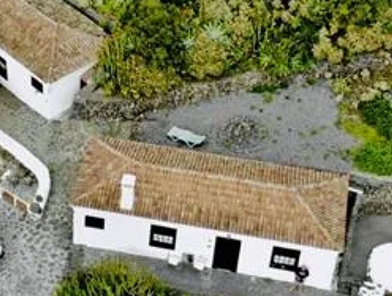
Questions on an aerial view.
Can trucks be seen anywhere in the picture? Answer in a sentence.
No, there isn't any truck down there.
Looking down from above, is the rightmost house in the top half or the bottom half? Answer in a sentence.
You can find the rightmost house in the bottom half.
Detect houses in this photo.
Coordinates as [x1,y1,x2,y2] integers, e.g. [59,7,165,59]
[0,0,108,124]
[70,134,351,285]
